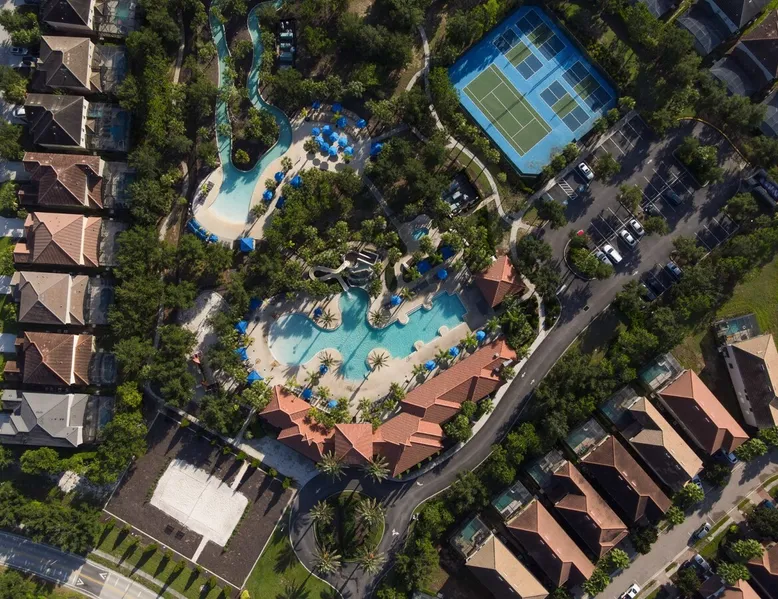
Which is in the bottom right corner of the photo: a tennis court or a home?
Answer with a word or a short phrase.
home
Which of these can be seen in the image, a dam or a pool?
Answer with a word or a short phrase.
pool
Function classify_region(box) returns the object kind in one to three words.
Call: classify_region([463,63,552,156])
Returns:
tennis court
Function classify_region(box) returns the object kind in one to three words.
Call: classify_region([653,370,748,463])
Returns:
house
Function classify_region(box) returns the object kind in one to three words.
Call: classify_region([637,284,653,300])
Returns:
car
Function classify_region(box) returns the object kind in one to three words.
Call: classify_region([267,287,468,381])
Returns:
swimming pool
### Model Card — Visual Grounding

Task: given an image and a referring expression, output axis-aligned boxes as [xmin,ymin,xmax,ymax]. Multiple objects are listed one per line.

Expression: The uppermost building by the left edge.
[39,0,106,33]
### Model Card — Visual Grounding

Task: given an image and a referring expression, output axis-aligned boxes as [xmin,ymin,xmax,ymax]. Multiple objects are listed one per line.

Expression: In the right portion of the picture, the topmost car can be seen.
[577,163,594,180]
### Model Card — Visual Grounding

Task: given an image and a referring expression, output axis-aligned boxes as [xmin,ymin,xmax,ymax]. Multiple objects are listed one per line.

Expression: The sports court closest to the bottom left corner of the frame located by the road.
[103,412,295,591]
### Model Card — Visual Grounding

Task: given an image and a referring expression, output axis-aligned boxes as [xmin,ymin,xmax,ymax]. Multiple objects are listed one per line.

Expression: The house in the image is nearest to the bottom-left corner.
[0,390,90,448]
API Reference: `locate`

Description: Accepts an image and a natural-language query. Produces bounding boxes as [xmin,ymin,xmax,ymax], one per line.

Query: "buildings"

[653,370,748,463]
[264,340,520,477]
[11,271,91,325]
[578,433,672,529]
[723,4,778,83]
[464,529,552,599]
[4,331,96,385]
[33,36,103,93]
[0,390,90,448]
[504,495,595,593]
[24,94,97,149]
[701,572,760,599]
[39,0,106,33]
[476,257,525,306]
[539,458,628,559]
[19,152,109,208]
[14,212,104,266]
[735,521,778,588]
[614,397,704,495]
[723,334,778,431]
